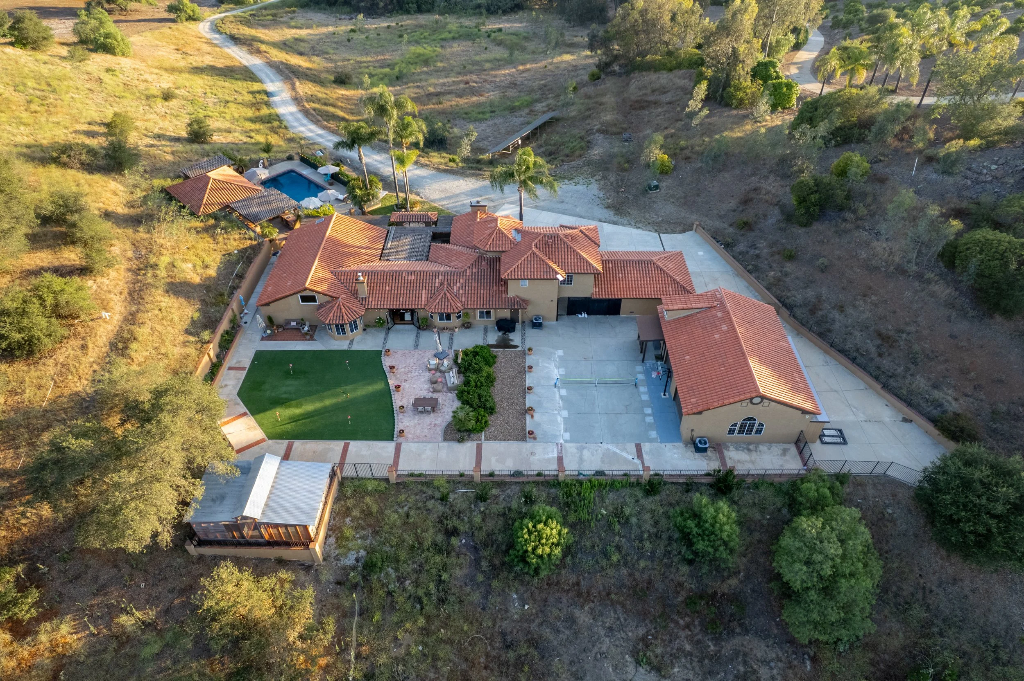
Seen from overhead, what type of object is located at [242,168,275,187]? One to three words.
umbrella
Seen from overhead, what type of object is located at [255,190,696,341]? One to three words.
house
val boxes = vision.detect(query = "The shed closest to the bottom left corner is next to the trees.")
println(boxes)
[186,450,335,544]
